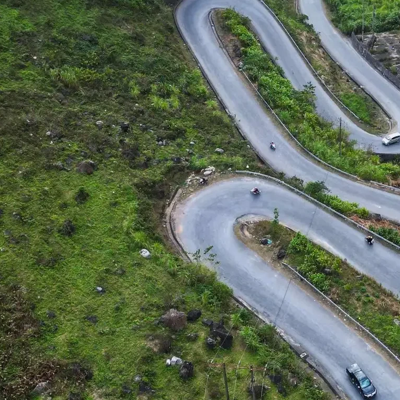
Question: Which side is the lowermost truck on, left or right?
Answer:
right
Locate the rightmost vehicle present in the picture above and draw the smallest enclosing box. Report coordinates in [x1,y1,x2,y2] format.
[381,131,400,146]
